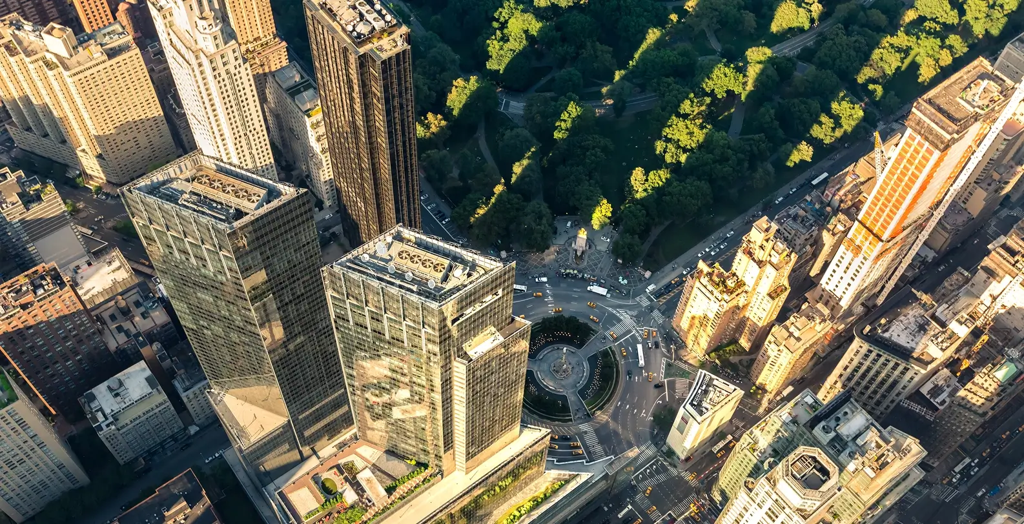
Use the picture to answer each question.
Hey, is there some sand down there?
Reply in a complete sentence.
No, there's no sand in this view.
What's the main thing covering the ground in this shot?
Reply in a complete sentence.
Most of the picture is covered by buildings.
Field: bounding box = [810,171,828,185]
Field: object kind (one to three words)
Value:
vehicle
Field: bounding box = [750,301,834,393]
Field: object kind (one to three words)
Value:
house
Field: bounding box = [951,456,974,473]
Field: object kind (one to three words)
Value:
vehicle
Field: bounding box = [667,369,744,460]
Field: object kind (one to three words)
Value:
building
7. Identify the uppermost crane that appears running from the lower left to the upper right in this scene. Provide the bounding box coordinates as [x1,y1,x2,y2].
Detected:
[875,89,1024,308]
